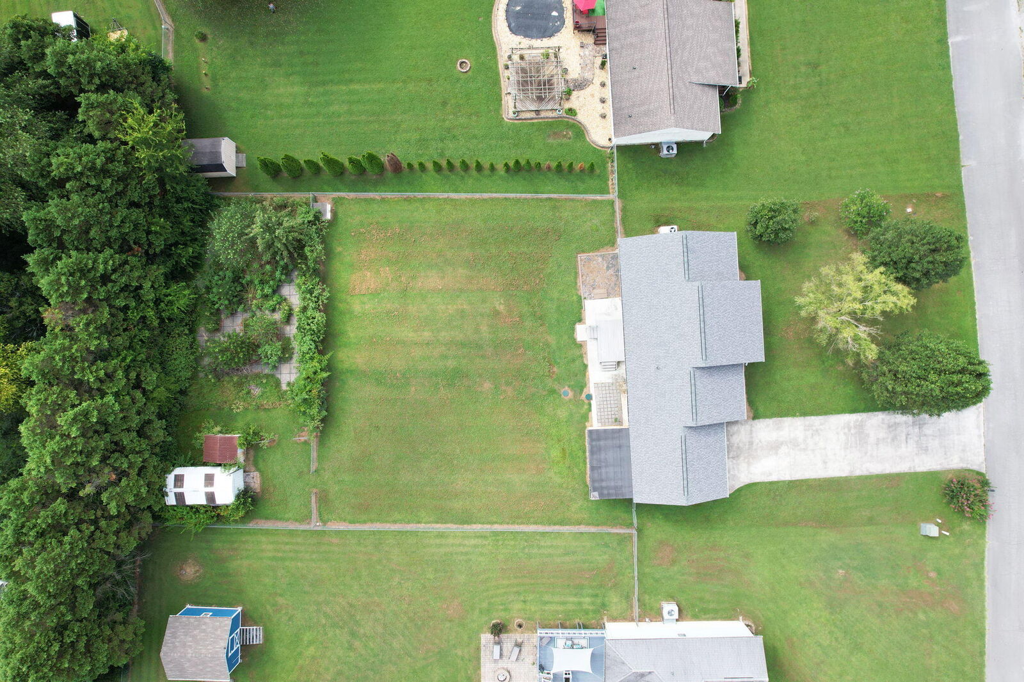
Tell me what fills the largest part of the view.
grass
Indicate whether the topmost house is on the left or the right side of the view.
right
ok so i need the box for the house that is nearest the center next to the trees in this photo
[585,231,766,505]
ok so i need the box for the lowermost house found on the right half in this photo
[604,614,768,682]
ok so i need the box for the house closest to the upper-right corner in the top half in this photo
[604,0,739,146]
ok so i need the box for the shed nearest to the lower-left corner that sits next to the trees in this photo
[160,606,242,681]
